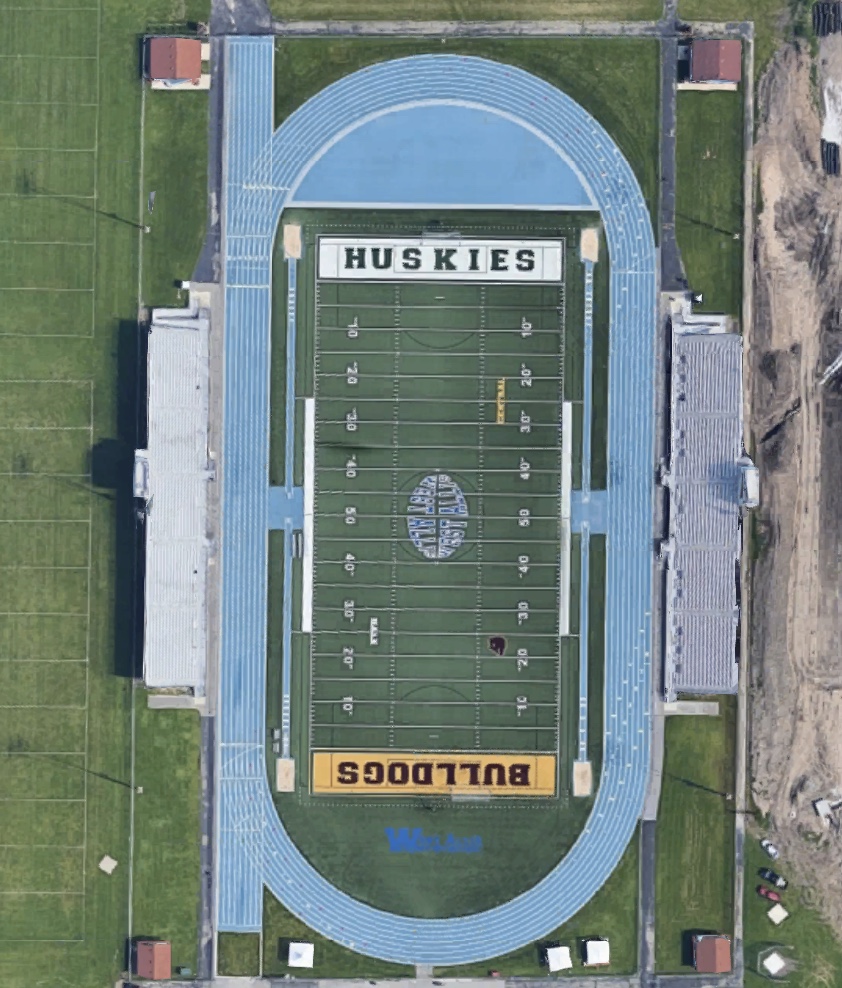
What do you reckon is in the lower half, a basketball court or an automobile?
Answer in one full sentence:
The feature located in the lower half is an automobile.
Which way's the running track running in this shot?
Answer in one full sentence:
What the image shows is the running track lying vertically.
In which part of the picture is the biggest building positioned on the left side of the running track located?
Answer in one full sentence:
The biggest building positioned on the left side of the running track appears toward the top left of the photo.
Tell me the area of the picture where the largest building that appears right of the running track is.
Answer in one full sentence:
The largest building that appears right of the running track appears toward the top right of the photo.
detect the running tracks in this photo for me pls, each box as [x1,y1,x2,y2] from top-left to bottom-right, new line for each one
[218,37,656,965]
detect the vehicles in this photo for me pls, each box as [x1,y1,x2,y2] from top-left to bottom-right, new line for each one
[761,839,782,863]
[756,866,791,894]
[757,884,782,905]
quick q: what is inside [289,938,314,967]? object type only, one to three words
tent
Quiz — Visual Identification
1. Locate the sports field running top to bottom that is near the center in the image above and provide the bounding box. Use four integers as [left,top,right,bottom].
[266,208,609,918]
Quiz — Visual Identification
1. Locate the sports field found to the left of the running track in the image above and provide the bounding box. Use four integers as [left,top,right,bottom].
[0,0,210,988]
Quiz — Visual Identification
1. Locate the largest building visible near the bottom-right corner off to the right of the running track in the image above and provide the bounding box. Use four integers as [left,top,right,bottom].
[695,935,732,975]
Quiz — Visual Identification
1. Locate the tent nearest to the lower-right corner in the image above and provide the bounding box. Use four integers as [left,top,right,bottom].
[584,937,609,964]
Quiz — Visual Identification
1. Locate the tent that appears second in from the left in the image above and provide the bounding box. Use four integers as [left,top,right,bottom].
[545,942,570,971]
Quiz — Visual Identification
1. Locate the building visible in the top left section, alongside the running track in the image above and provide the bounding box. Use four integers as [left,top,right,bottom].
[150,36,202,81]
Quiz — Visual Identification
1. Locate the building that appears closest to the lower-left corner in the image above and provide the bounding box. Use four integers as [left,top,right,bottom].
[137,938,172,979]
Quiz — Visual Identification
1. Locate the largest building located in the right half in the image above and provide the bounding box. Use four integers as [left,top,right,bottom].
[692,38,742,83]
